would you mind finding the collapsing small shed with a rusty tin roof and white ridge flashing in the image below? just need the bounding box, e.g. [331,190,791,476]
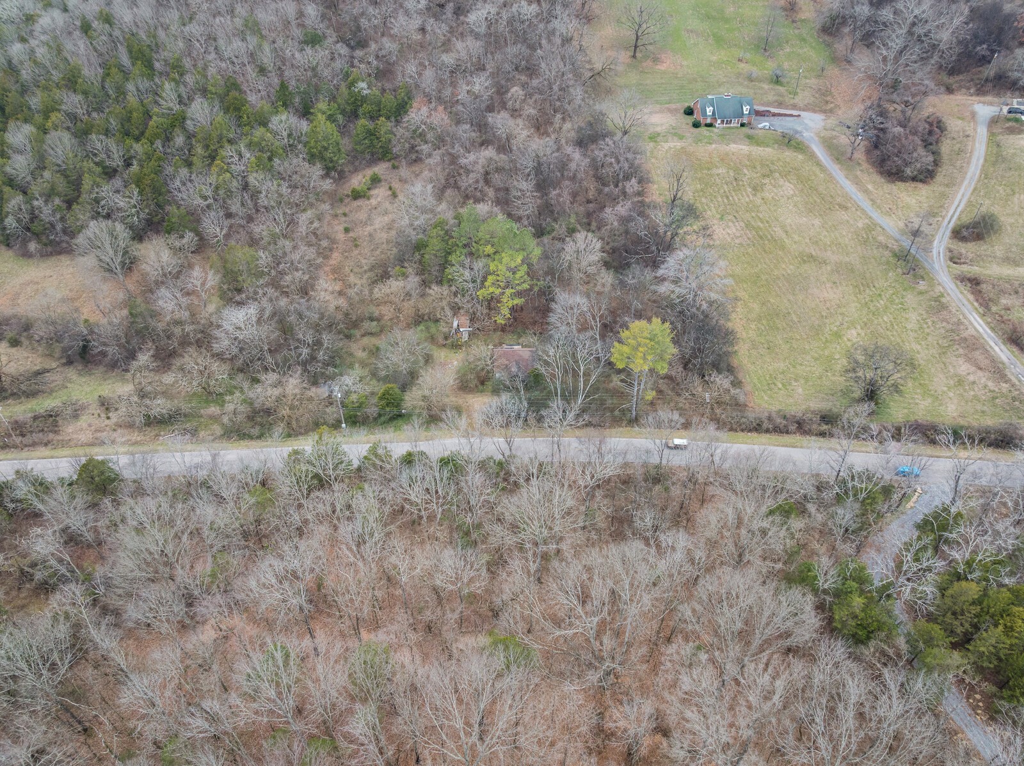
[451,312,472,340]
